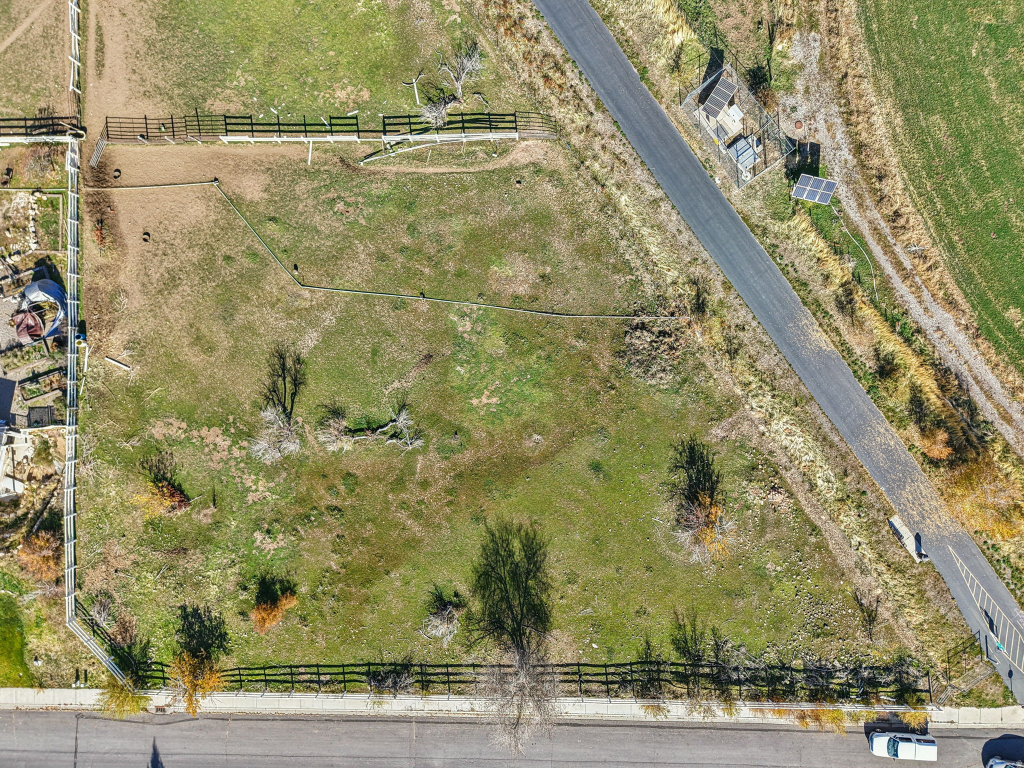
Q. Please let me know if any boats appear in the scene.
No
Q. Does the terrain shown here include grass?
Yes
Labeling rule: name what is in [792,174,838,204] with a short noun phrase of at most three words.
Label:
solar array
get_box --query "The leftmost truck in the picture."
[870,730,936,760]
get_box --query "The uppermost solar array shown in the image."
[701,77,738,119]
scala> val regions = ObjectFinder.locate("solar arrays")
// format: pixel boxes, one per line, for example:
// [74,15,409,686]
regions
[792,174,838,204]
[701,77,738,119]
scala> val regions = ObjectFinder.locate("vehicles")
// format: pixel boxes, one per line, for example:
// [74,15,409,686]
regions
[870,730,936,760]
[986,757,1024,768]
